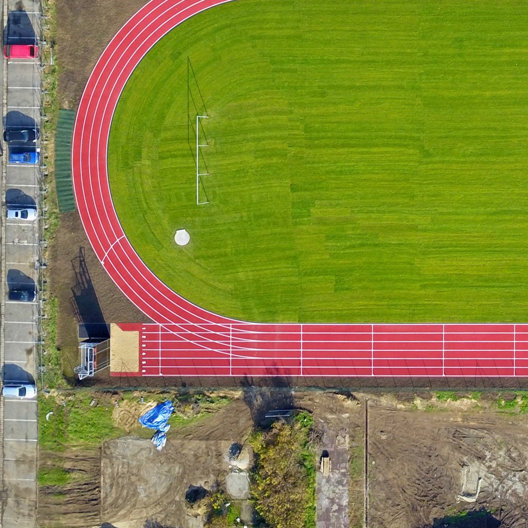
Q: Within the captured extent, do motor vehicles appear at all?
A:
Yes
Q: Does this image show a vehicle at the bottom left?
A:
Yes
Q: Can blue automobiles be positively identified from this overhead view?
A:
Yes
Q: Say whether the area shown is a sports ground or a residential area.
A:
sports ground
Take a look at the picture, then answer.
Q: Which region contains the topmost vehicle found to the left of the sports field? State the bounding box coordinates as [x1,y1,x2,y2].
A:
[3,43,39,60]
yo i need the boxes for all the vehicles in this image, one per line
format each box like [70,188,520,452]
[7,208,37,222]
[8,288,37,303]
[1,382,36,401]
[2,127,40,144]
[9,150,40,166]
[3,43,39,60]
